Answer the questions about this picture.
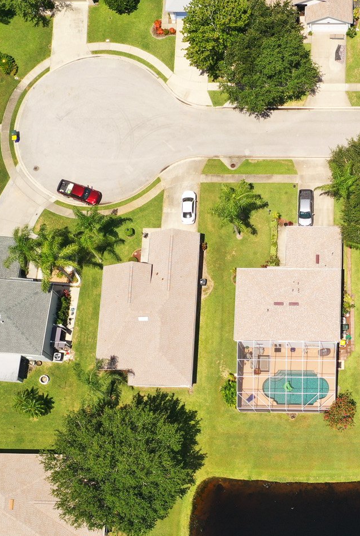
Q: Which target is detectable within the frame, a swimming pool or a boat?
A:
swimming pool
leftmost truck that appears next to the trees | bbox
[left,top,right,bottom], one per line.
[53,176,101,204]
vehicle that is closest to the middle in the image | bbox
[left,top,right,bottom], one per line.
[179,188,195,223]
